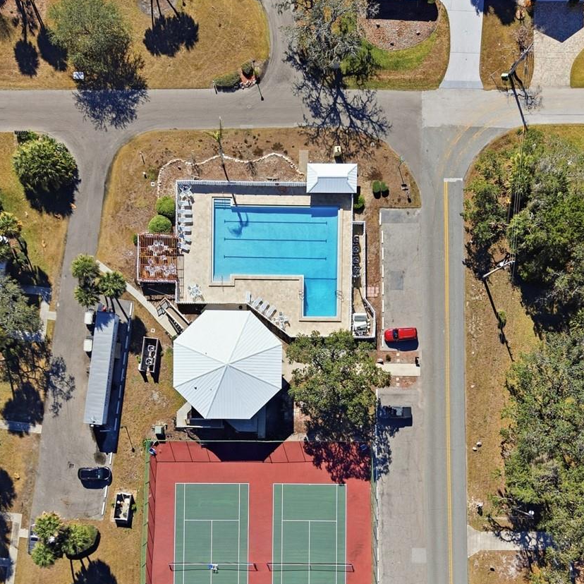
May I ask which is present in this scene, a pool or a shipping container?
pool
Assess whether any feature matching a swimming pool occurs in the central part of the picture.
Yes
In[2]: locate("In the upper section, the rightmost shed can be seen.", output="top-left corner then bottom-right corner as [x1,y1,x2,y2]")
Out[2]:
[306,161,358,194]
